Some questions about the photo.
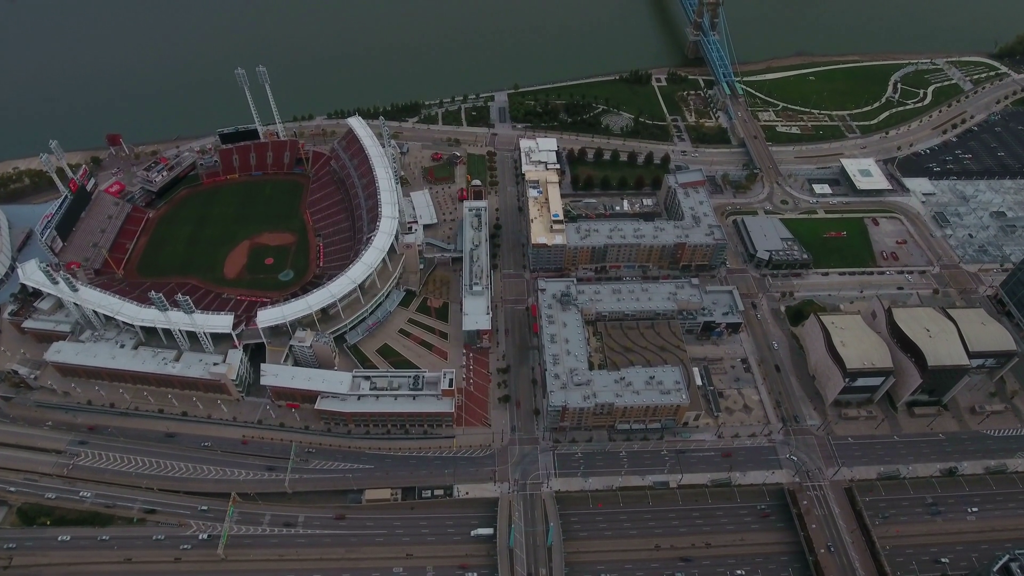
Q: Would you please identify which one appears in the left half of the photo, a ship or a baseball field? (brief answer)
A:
baseball field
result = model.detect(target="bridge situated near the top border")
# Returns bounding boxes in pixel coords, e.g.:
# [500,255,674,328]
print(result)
[679,0,783,187]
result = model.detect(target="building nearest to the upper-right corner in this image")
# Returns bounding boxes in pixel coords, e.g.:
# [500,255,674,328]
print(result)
[839,158,893,196]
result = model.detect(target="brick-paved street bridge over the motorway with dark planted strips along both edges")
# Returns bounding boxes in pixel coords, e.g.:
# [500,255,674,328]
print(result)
[786,481,890,576]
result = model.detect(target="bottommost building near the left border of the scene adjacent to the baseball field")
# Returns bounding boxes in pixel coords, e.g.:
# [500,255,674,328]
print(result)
[44,326,226,394]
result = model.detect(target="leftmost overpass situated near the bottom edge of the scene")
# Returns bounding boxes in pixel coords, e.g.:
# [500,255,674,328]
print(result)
[497,490,565,576]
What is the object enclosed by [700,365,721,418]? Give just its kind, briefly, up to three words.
shed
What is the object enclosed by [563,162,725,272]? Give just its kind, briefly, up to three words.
building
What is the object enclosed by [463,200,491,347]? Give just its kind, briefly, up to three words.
building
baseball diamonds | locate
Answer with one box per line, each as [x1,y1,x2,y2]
[124,174,318,295]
